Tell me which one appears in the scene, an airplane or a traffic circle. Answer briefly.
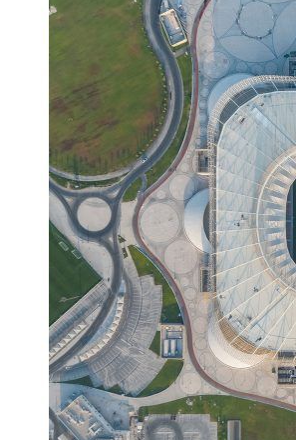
traffic circle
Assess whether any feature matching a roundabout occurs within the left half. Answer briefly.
Yes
